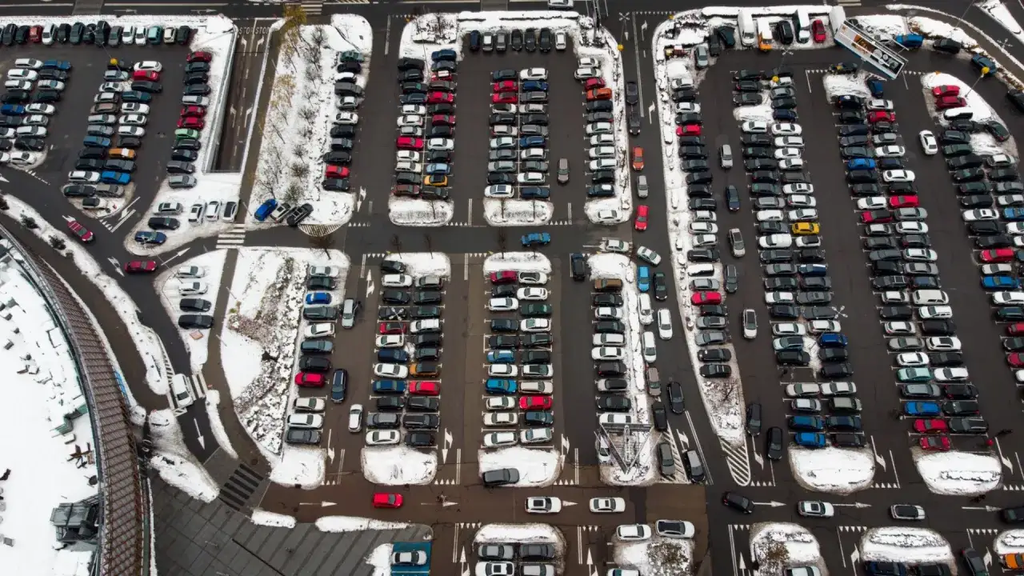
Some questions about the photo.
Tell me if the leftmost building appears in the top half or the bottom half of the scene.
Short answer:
bottom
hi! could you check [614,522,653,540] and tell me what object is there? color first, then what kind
white car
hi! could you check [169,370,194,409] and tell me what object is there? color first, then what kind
white vehicle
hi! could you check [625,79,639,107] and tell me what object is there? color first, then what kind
black vehicle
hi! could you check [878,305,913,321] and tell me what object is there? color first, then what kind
black car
